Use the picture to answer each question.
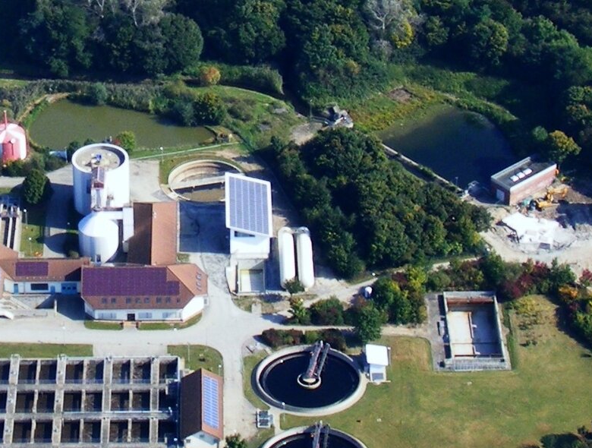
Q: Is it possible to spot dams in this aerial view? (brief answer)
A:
Yes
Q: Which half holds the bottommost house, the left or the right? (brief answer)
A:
left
